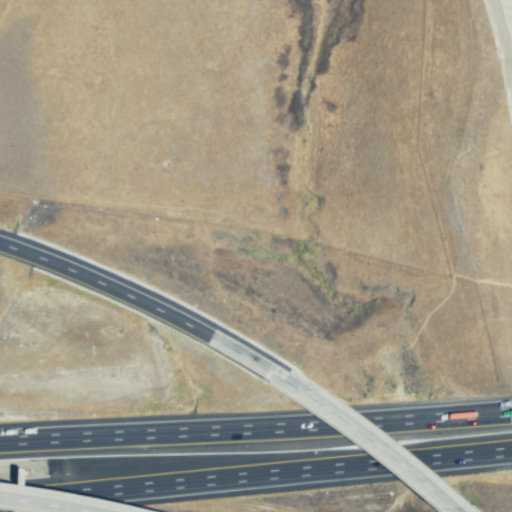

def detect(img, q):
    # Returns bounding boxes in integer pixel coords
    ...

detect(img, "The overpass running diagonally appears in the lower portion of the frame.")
[276,367,484,512]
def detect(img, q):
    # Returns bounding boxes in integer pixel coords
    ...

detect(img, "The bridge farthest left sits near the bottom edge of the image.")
[0,468,162,512]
